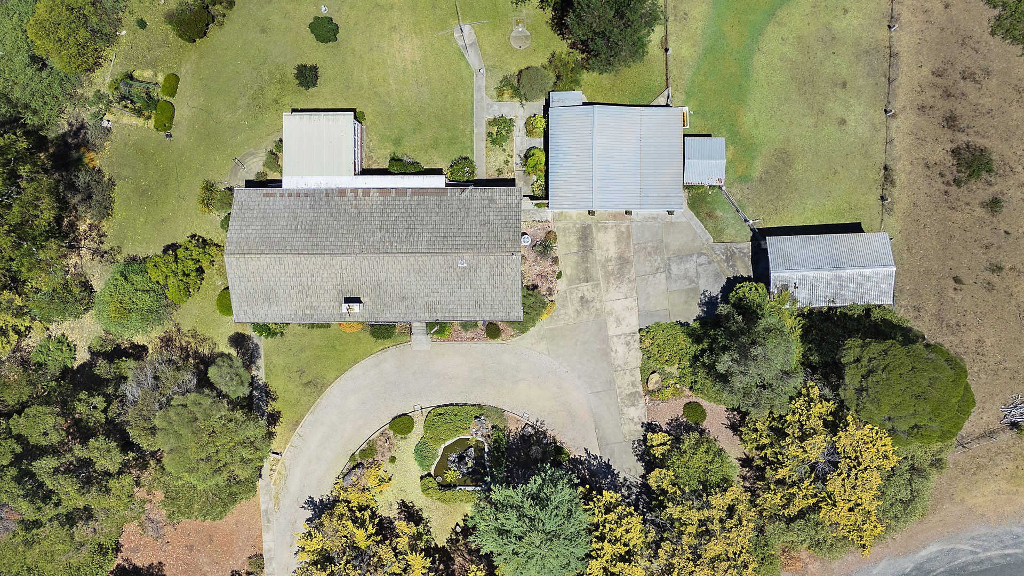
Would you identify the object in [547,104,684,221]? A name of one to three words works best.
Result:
building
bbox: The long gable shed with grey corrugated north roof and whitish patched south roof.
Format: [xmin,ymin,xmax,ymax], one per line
[754,232,897,308]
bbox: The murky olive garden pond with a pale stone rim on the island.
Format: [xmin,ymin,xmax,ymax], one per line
[433,435,490,488]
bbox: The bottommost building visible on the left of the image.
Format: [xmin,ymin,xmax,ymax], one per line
[223,111,523,324]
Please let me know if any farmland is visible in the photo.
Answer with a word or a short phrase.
Yes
